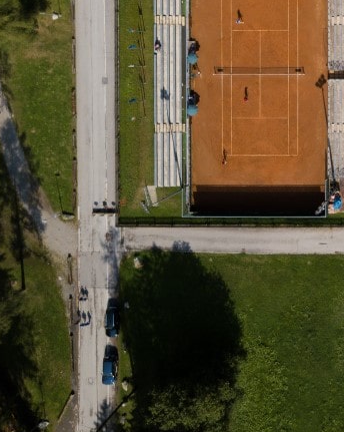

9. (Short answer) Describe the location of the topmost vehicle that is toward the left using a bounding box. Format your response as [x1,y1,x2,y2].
[103,304,121,337]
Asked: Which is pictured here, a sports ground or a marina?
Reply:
sports ground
